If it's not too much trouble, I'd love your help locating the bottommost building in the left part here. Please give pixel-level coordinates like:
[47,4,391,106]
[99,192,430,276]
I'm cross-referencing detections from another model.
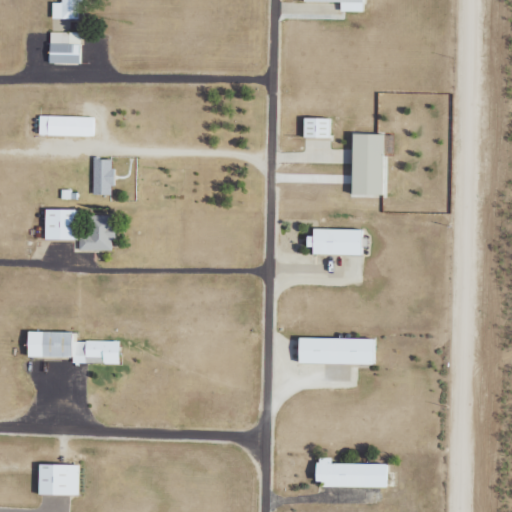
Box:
[38,464,80,496]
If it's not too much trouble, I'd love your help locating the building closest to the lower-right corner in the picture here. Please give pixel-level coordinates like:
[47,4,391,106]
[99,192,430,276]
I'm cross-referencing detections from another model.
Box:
[316,458,395,488]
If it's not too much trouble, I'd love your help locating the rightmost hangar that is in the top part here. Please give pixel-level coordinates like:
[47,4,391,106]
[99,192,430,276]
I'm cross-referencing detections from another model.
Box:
[352,132,389,197]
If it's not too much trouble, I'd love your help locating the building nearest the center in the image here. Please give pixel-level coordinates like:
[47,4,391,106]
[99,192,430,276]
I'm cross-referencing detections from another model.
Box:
[306,228,364,254]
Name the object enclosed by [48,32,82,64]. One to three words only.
building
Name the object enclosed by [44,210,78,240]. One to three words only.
hangar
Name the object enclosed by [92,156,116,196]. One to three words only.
house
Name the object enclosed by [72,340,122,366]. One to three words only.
house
